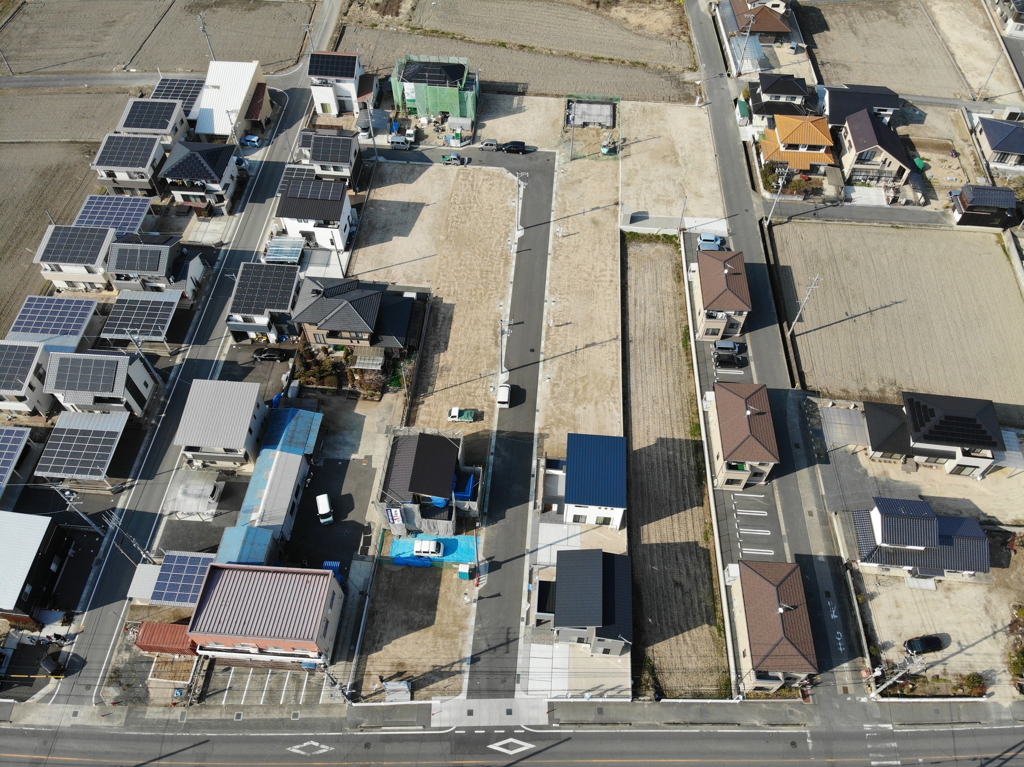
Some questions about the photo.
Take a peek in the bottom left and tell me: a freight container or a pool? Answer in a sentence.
Visible in the bottom left is a freight container.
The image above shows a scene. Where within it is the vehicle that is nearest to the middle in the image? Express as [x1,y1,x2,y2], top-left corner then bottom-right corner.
[497,380,511,406]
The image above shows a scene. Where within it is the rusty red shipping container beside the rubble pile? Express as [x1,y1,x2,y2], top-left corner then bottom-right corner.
[135,621,203,655]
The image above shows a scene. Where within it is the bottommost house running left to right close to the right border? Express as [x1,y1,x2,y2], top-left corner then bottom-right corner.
[845,497,990,574]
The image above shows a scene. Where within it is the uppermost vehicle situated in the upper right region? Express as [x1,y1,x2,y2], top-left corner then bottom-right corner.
[785,39,800,55]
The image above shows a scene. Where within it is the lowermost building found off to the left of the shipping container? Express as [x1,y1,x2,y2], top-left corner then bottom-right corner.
[0,513,78,642]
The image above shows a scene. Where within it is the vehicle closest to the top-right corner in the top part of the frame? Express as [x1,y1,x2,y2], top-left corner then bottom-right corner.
[944,186,963,199]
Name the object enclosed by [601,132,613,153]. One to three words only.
vehicle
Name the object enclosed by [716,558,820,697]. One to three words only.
building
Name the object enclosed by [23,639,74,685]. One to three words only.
car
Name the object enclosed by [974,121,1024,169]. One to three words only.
house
